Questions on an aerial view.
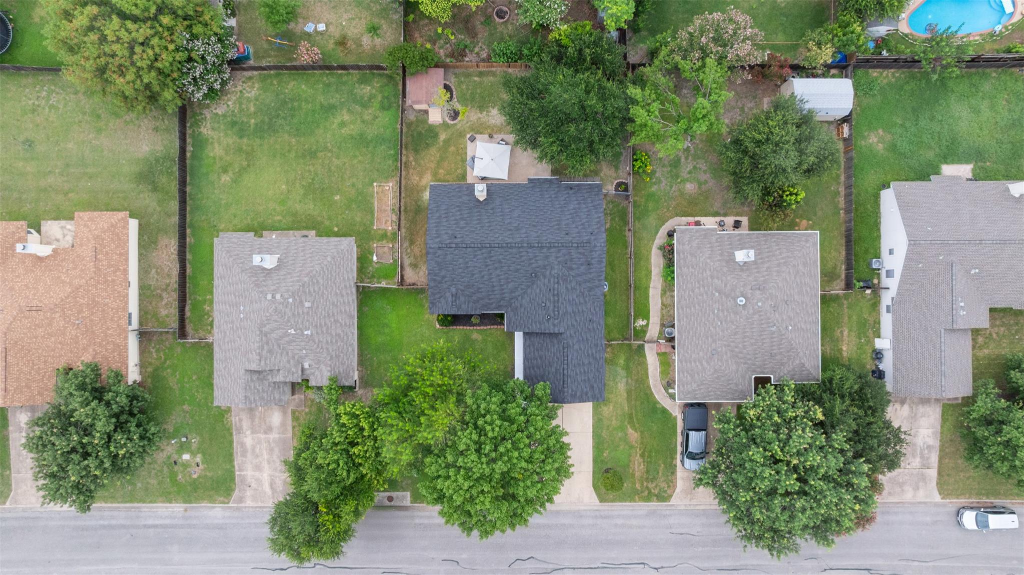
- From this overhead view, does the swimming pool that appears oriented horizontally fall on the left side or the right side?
right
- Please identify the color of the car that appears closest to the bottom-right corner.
white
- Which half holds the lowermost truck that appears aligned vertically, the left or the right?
right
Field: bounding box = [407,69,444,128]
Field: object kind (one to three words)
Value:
shed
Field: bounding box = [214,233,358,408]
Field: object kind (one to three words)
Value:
house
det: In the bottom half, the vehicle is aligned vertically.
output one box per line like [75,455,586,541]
[679,402,711,471]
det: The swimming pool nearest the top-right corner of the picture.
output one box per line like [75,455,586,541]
[905,0,1018,38]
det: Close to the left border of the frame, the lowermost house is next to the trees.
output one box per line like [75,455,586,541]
[0,211,143,408]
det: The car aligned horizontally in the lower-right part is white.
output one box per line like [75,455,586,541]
[956,505,1016,534]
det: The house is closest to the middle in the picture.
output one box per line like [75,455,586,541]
[427,177,606,404]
